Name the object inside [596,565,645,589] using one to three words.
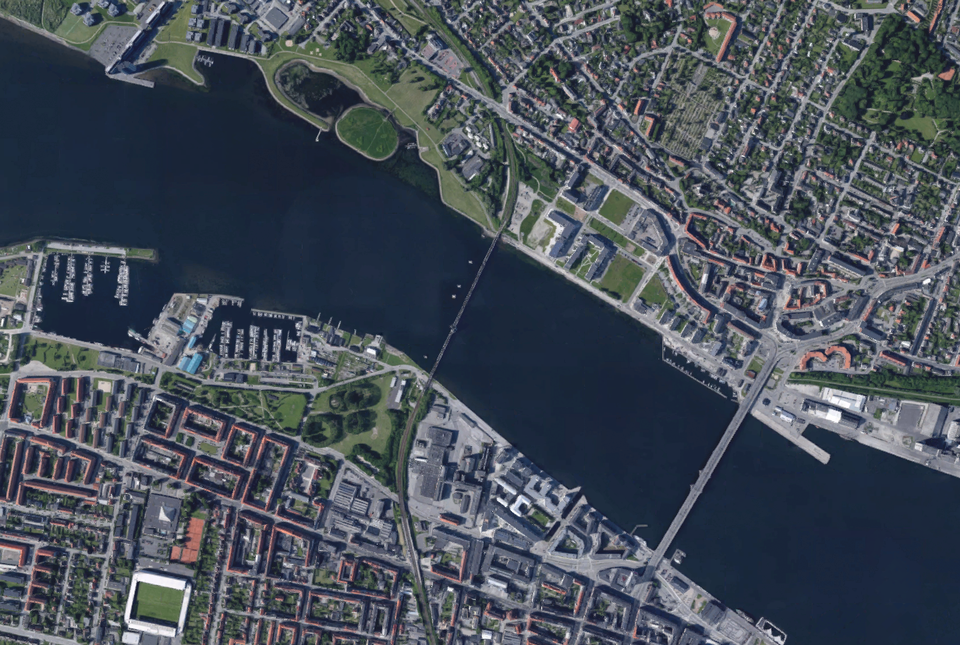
building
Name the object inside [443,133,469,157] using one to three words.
house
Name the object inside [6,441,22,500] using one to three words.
building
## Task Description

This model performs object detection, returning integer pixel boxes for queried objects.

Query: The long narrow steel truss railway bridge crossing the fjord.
[427,232,501,391]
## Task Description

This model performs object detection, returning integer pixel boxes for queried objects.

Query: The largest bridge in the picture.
[636,339,792,592]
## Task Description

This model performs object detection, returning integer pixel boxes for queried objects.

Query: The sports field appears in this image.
[133,583,183,622]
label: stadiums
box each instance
[123,571,192,638]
